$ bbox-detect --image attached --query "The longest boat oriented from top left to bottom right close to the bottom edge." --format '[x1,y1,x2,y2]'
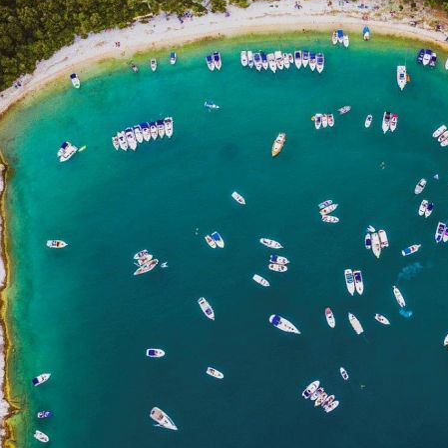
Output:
[149,406,177,432]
